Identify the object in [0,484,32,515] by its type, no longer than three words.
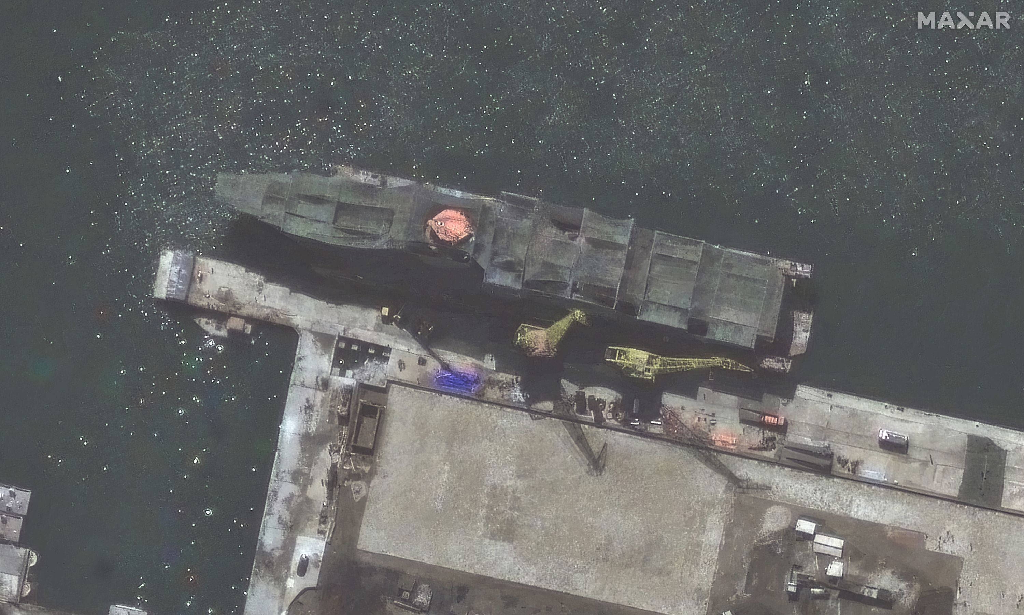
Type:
ship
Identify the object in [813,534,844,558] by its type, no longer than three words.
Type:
shed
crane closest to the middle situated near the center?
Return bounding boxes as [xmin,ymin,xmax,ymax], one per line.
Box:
[514,307,593,357]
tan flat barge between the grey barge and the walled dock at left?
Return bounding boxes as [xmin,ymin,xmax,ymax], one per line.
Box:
[0,514,24,542]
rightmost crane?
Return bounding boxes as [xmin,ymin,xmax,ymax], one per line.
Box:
[605,341,754,383]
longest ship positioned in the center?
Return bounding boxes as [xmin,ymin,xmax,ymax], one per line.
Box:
[215,171,812,348]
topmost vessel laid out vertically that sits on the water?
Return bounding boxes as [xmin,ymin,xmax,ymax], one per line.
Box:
[789,310,813,356]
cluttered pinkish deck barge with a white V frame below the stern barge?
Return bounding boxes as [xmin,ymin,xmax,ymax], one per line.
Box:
[760,355,792,372]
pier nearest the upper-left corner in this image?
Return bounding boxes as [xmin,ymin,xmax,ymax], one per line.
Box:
[154,249,193,301]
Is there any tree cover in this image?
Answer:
No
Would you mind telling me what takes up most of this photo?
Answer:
water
